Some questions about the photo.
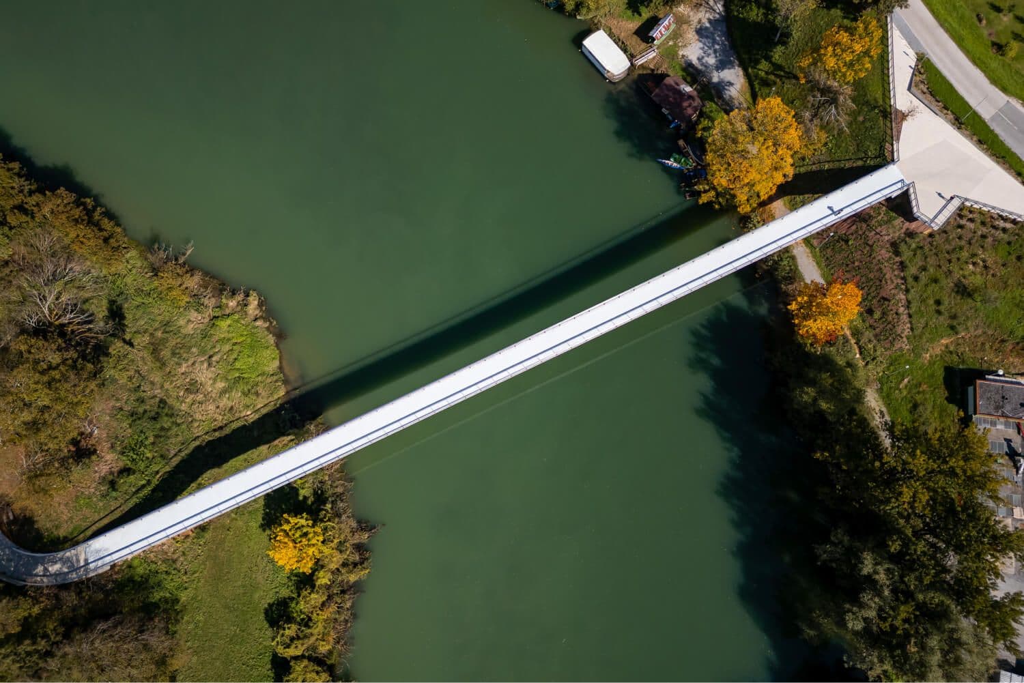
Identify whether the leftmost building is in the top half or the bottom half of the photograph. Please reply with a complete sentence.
The top half of the photo is where the leftmost building is.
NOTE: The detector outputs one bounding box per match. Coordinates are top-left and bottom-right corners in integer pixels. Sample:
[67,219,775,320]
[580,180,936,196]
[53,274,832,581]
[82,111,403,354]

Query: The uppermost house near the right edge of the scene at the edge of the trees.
[962,379,1024,426]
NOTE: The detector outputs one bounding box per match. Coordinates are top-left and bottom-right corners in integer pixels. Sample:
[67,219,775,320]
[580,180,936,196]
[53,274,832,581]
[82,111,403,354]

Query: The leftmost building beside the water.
[639,71,702,128]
